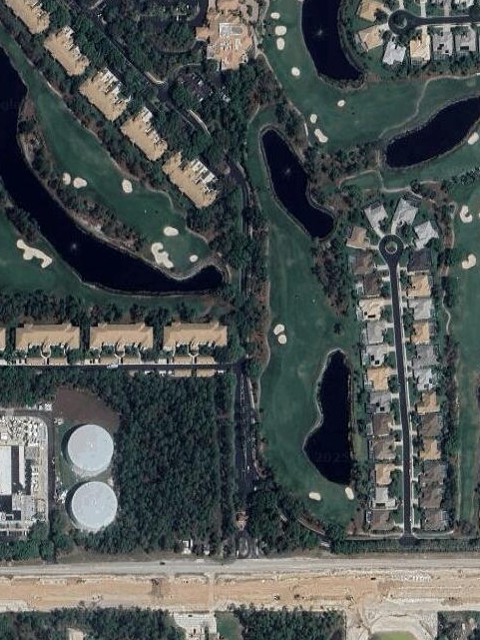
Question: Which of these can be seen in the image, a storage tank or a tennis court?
storage tank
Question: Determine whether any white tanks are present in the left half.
Yes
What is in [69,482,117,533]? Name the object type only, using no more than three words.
storage tank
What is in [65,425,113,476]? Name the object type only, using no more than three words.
storage tank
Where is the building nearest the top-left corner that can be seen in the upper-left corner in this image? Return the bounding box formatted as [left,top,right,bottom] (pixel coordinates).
[6,0,49,31]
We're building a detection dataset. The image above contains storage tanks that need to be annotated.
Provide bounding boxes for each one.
[65,425,113,476]
[69,482,117,533]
